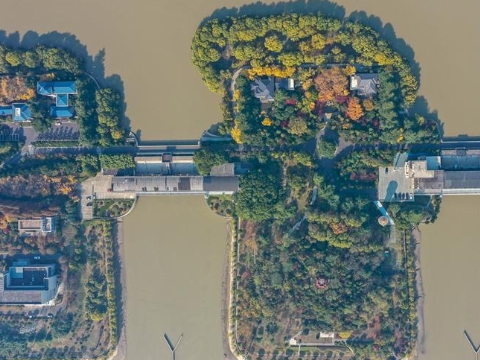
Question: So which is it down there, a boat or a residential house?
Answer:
residential house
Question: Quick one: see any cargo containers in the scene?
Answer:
No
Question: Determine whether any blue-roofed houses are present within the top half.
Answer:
Yes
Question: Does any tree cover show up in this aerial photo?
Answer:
Yes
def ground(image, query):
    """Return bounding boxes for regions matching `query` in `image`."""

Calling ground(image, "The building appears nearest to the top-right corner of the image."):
[350,73,377,96]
